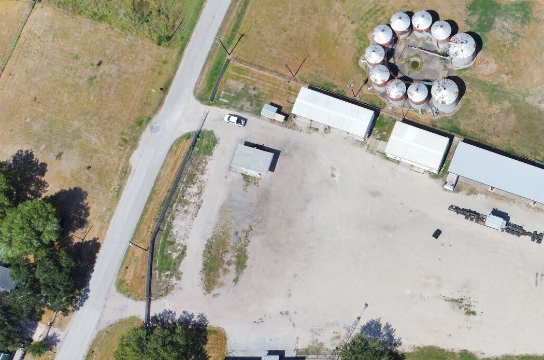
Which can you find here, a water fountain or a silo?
silo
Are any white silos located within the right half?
Yes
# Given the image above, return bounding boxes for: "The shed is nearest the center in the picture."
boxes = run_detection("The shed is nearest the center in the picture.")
[230,144,275,177]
